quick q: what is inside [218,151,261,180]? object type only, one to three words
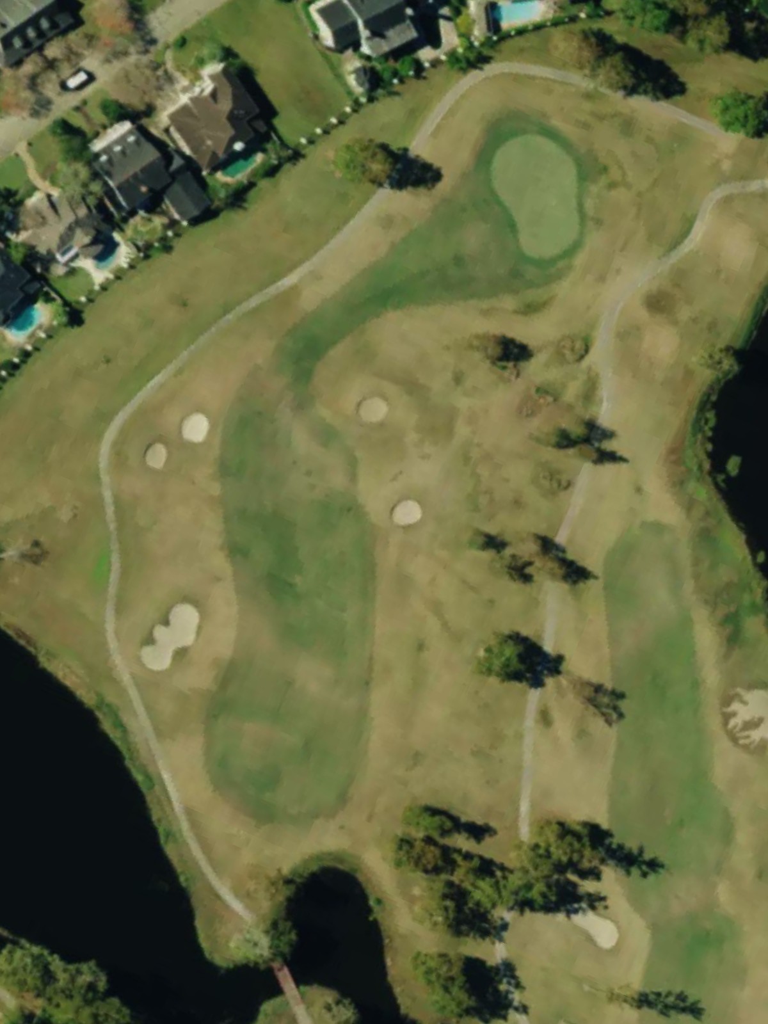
swimming pool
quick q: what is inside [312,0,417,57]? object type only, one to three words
house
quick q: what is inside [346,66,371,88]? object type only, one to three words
building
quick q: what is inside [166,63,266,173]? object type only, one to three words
house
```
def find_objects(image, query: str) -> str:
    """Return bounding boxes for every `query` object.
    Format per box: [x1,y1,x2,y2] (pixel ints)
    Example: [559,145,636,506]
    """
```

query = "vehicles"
[61,67,90,91]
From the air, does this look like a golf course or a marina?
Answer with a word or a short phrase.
golf course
